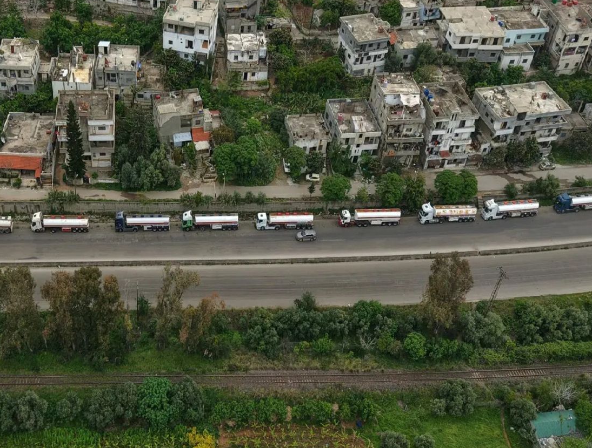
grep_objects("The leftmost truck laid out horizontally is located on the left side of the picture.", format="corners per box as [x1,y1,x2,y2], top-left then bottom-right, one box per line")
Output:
[30,210,88,232]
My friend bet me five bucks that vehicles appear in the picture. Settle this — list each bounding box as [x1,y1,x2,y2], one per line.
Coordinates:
[255,209,313,229]
[480,196,541,219]
[0,213,12,233]
[30,210,88,232]
[305,172,321,180]
[182,209,238,230]
[552,190,592,212]
[284,156,292,170]
[339,203,402,226]
[538,159,558,168]
[116,211,169,231]
[419,201,478,223]
[295,230,316,241]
